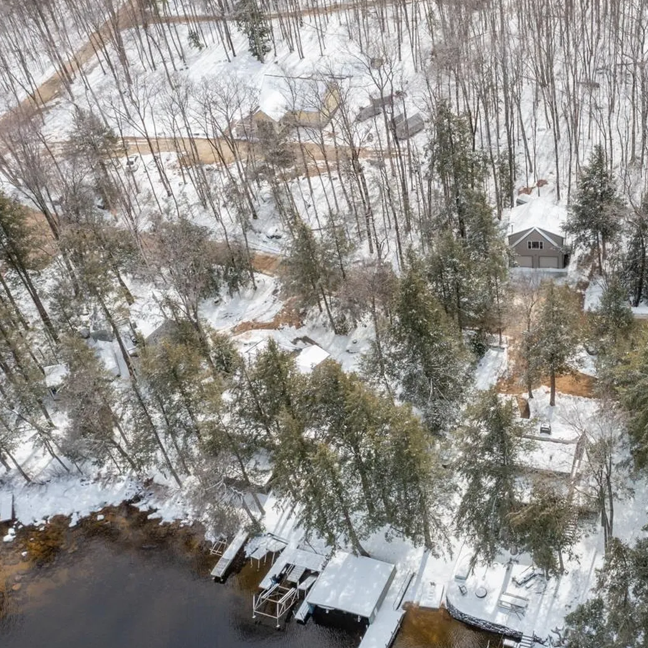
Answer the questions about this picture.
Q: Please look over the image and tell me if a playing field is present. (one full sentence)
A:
No, the photo shows no playing field.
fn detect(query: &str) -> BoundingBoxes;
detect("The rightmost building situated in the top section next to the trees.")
[506,191,573,270]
